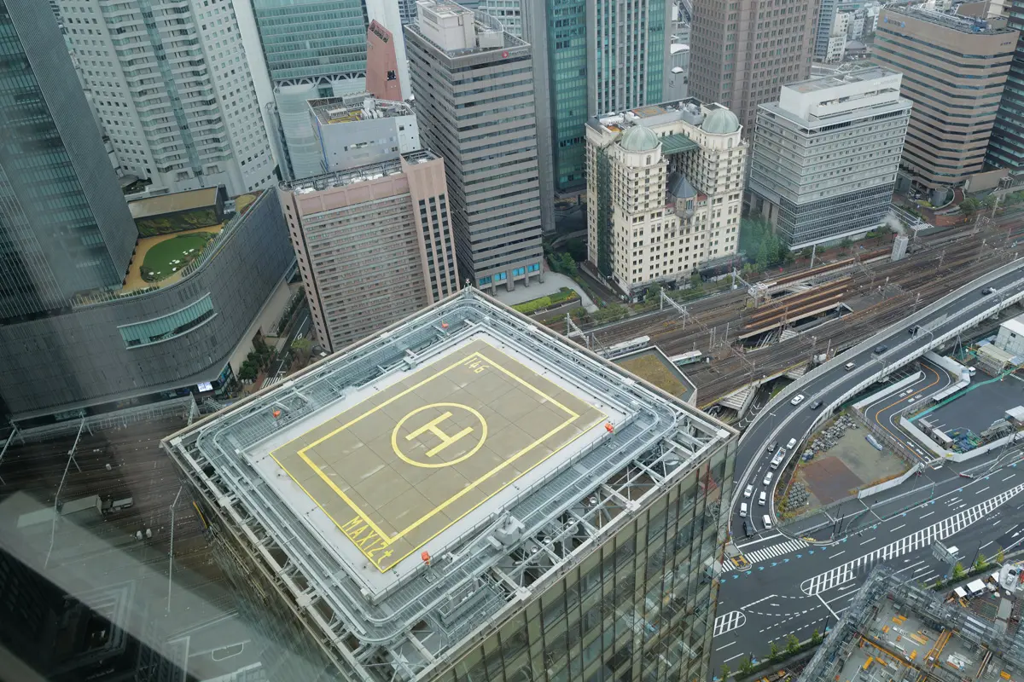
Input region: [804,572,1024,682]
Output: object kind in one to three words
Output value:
building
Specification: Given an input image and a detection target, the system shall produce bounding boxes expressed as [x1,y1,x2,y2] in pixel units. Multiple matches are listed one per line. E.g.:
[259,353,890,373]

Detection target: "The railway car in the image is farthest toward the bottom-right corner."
[668,350,703,368]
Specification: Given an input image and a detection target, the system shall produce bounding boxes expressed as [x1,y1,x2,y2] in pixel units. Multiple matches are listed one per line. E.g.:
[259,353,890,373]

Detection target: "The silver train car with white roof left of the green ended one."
[596,338,650,355]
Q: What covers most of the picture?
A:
buildings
